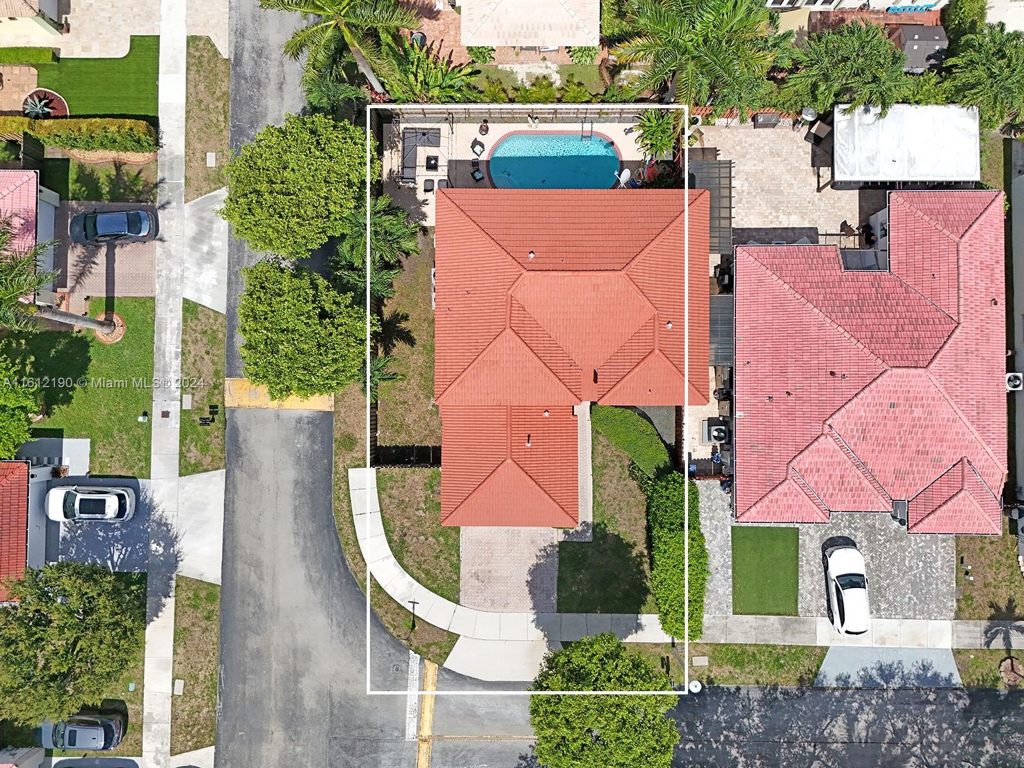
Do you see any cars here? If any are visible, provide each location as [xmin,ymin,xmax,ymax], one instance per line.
[43,708,129,754]
[48,484,140,526]
[825,540,873,631]
[67,207,152,248]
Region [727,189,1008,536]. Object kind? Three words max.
house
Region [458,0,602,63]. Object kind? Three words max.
house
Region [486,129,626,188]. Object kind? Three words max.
swimming pool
